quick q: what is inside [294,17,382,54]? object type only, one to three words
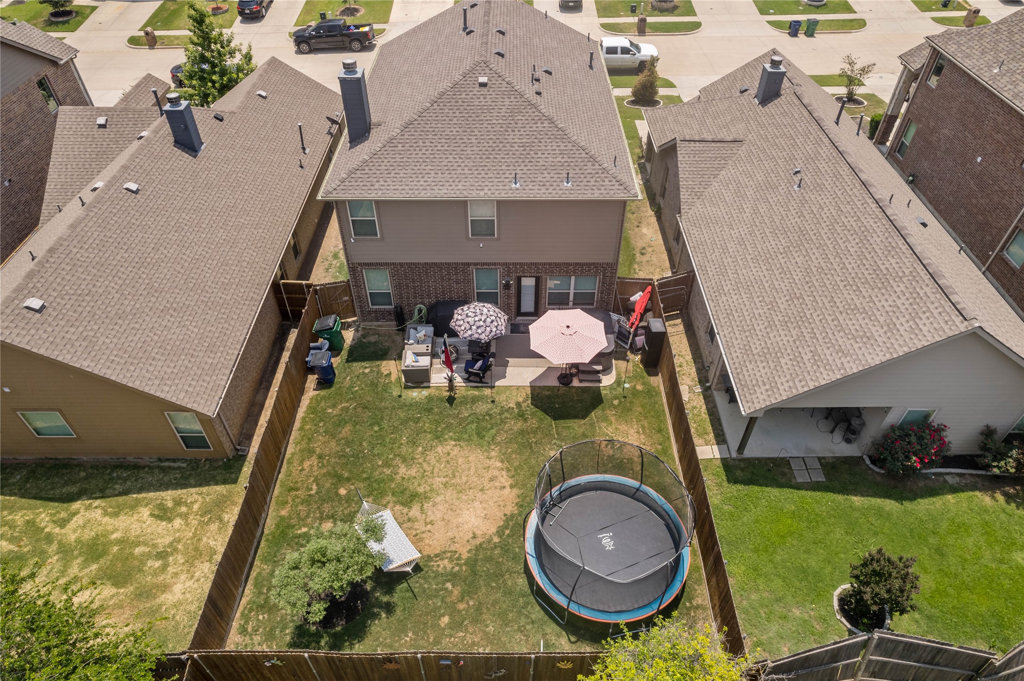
truck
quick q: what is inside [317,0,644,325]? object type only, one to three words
house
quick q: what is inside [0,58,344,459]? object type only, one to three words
house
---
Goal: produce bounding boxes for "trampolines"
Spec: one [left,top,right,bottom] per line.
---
[522,444,698,636]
